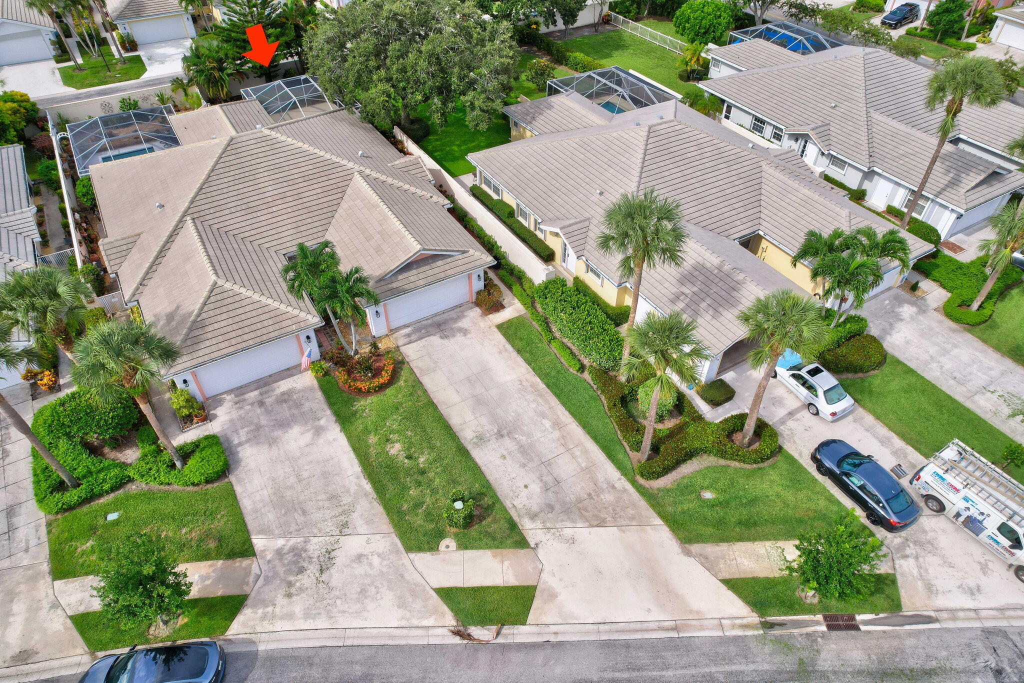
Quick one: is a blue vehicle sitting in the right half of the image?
Yes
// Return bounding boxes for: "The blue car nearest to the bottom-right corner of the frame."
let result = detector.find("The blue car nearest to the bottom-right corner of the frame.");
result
[814,443,930,536]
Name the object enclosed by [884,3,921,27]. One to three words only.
car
